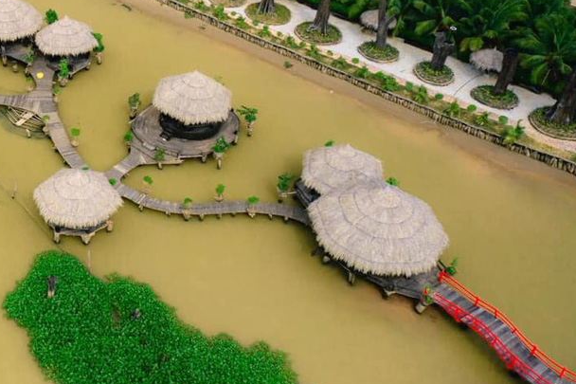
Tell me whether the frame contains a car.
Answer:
No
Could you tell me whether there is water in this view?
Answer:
Yes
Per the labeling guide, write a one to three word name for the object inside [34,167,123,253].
building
